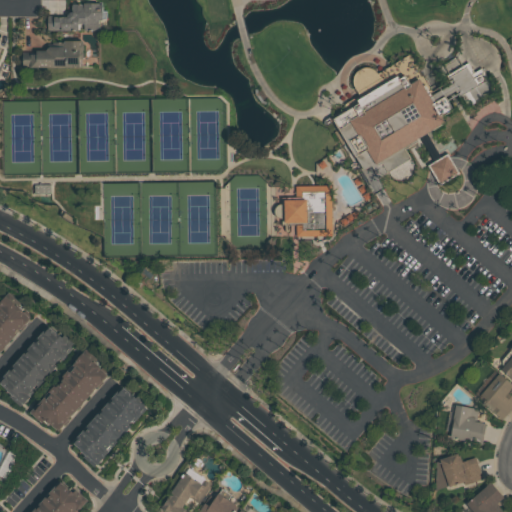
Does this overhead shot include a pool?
Yes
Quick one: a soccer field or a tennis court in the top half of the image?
tennis court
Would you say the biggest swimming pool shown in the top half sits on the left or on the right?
right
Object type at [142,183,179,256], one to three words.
tennis court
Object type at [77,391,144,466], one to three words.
building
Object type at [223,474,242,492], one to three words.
swimming pool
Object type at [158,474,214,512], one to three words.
house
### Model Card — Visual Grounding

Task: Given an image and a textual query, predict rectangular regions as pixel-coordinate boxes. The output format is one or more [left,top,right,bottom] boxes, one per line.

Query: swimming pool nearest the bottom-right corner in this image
[452,388,474,406]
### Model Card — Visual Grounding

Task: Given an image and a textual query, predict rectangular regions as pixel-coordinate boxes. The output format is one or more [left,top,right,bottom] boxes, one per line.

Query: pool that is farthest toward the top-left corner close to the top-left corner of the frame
[82,34,98,50]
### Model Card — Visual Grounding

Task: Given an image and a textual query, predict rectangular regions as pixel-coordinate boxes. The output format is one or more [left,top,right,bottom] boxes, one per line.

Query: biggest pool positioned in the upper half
[337,174,364,207]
